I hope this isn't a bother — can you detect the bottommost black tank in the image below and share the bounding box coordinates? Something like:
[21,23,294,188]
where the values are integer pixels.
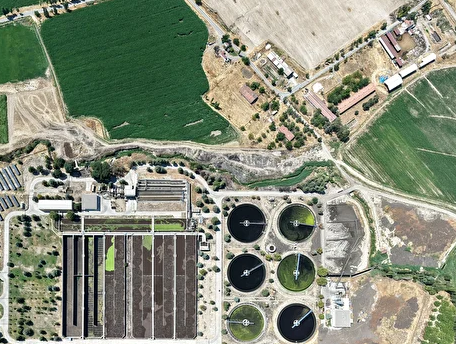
[277,303,315,342]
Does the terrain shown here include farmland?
Yes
